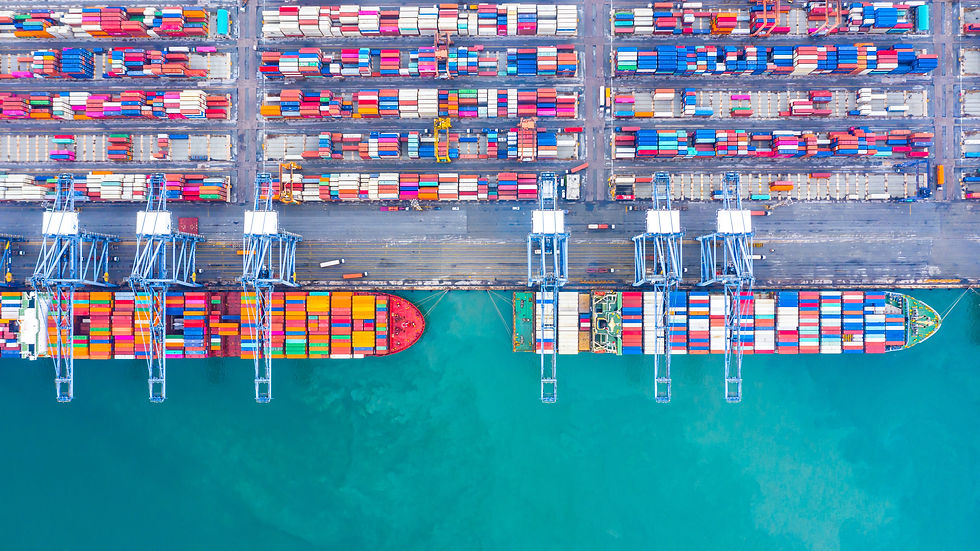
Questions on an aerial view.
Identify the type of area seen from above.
port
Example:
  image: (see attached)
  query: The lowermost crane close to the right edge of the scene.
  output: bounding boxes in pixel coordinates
[894,160,932,204]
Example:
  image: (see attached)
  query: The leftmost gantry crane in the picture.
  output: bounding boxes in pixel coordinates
[0,234,32,287]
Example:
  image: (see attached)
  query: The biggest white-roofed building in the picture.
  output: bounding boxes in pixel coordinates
[564,174,581,200]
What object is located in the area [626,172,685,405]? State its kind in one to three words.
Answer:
container crane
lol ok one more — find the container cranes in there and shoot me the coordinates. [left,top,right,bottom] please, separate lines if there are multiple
[894,160,932,204]
[0,234,32,287]
[808,0,839,38]
[128,172,208,405]
[31,172,123,405]
[434,117,453,165]
[522,172,571,405]
[518,117,537,165]
[749,0,778,38]
[278,161,304,205]
[435,31,454,80]
[626,172,685,405]
[240,172,305,405]
[690,172,756,405]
